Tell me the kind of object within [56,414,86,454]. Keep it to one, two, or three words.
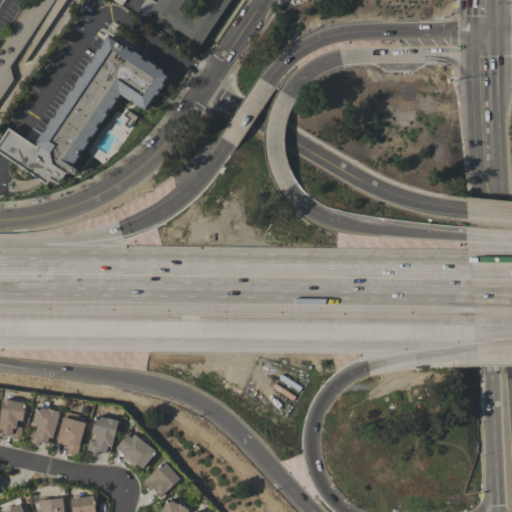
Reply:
house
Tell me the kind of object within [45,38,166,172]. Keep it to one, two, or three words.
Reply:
building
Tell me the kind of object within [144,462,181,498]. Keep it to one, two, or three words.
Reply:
house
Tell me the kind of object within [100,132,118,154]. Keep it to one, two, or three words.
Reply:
swimming pool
